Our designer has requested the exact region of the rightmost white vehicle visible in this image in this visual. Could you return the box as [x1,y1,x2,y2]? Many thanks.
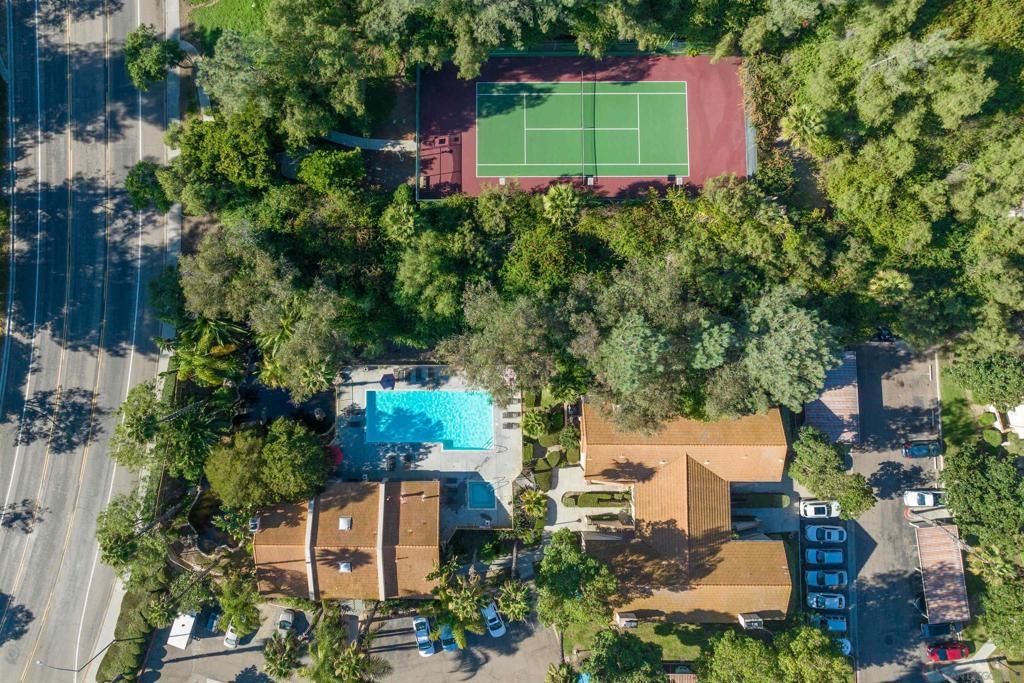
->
[901,490,948,509]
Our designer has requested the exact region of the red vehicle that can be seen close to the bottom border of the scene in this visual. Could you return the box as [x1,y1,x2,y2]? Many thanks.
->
[926,641,967,662]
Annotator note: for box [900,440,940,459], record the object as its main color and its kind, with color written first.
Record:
blue car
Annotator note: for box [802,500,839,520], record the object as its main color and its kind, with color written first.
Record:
white car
